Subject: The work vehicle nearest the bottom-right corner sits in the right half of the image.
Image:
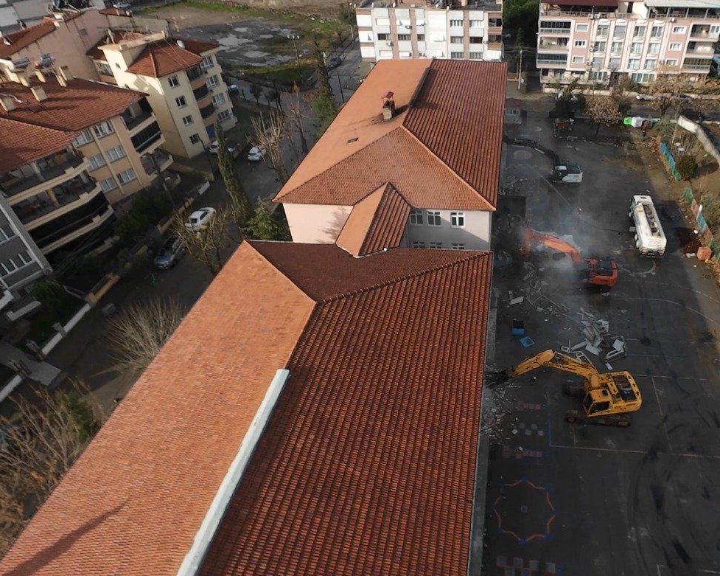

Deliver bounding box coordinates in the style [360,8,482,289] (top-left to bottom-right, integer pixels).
[494,351,646,425]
